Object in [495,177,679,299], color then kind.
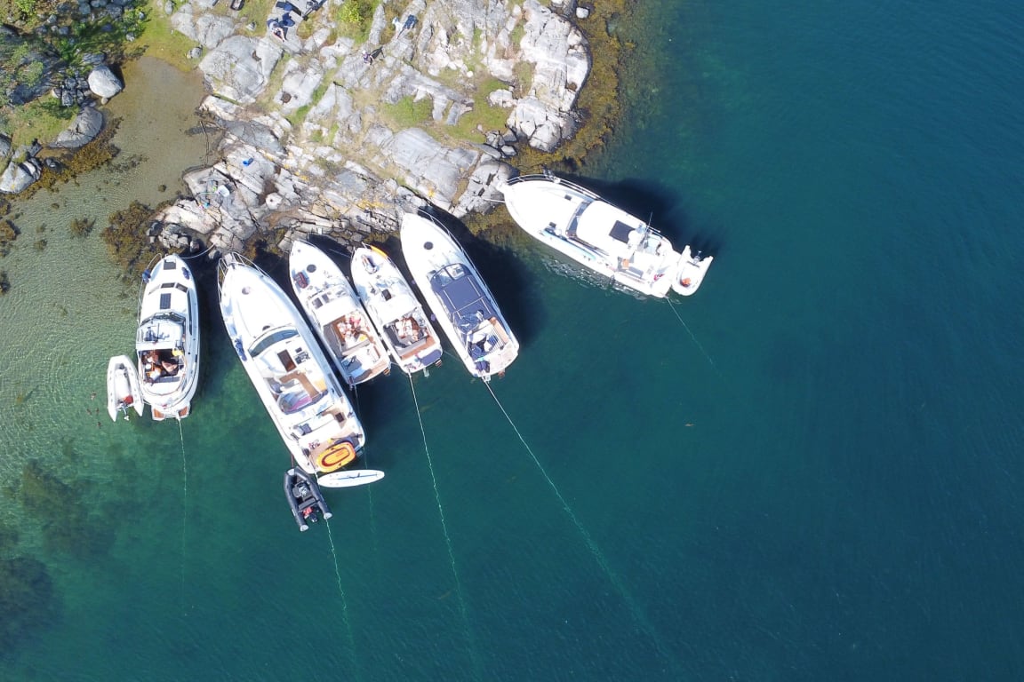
white boat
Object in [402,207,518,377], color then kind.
white boat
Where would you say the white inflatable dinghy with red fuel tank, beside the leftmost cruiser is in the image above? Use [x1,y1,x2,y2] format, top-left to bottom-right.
[107,355,144,417]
